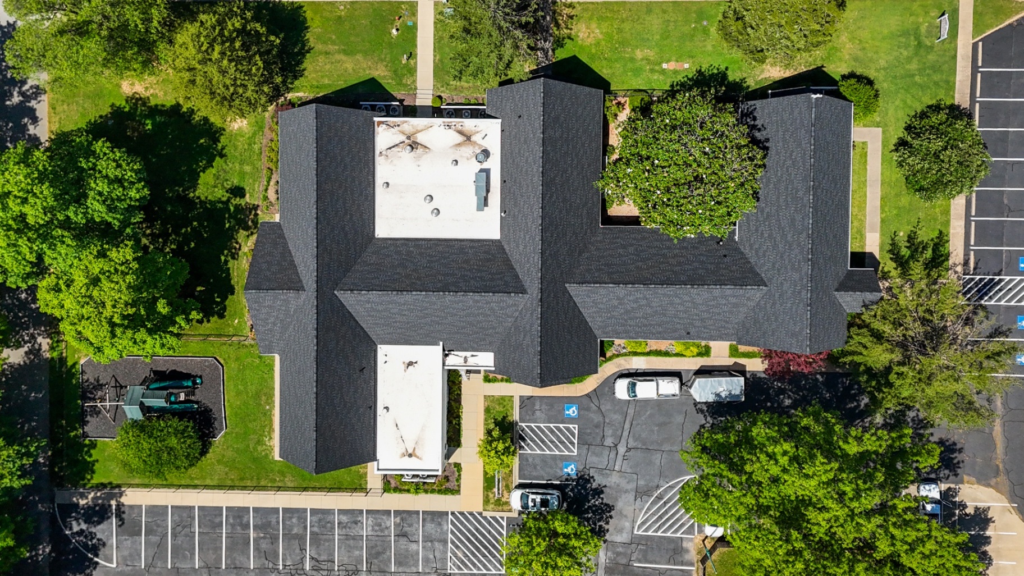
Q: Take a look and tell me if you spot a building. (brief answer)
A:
Yes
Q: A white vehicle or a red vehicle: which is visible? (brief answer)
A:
white vehicle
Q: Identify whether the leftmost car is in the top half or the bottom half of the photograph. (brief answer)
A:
bottom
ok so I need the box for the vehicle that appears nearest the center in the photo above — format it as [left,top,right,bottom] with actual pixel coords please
[613,374,681,400]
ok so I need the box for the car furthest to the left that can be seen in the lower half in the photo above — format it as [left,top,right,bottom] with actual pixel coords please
[511,485,562,513]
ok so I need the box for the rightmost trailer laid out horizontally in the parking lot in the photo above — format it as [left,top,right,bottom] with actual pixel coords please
[680,372,744,403]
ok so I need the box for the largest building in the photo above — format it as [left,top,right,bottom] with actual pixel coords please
[244,73,883,474]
